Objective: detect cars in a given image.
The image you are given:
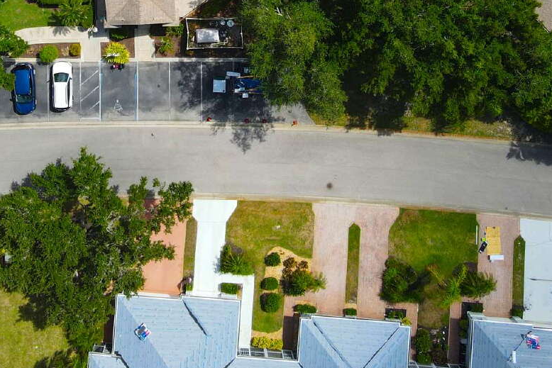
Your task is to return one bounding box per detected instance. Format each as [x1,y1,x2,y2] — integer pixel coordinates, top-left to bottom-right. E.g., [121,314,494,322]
[48,59,73,112]
[10,62,35,114]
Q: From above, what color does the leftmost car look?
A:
blue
